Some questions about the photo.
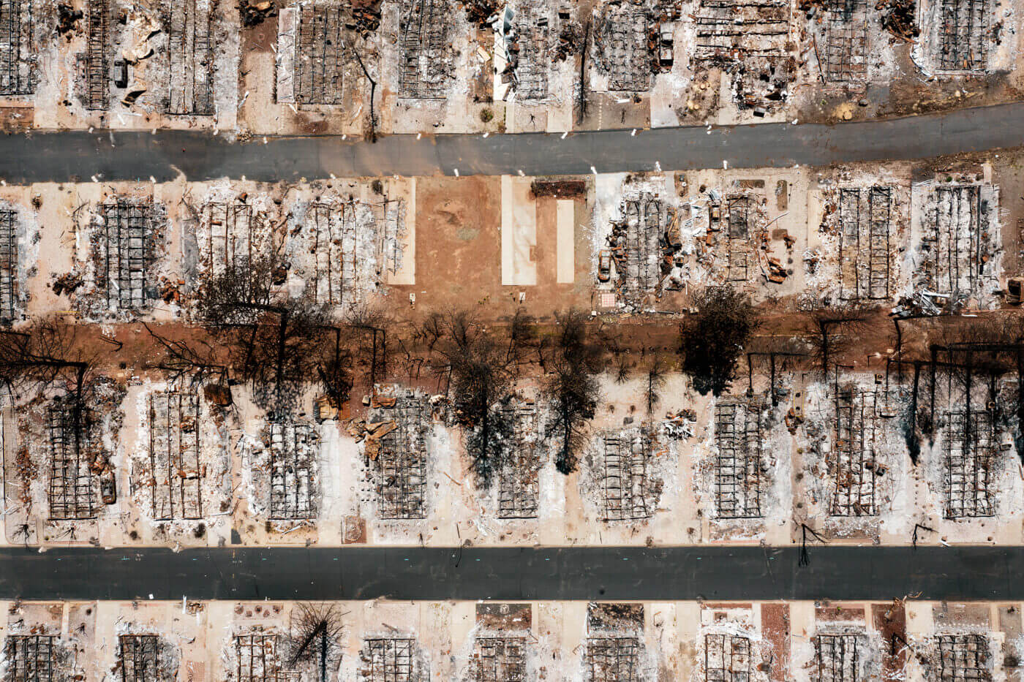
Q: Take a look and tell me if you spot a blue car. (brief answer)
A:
No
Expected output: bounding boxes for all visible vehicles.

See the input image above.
[110,58,127,86]
[661,21,675,63]
[1009,278,1024,303]
[709,202,723,231]
[599,250,612,281]
[98,472,115,504]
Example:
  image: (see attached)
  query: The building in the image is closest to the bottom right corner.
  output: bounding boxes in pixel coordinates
[927,633,988,682]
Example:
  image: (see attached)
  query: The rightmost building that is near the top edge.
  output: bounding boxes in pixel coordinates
[938,0,989,73]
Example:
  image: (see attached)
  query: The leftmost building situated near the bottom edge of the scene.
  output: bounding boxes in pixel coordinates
[5,634,64,682]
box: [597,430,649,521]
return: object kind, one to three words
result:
house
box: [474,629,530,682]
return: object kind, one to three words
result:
house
